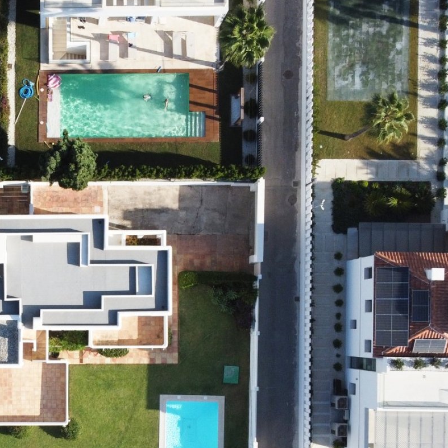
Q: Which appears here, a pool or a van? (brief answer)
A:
pool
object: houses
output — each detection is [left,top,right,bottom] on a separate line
[336,223,448,448]
[0,214,172,425]
[41,0,230,26]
